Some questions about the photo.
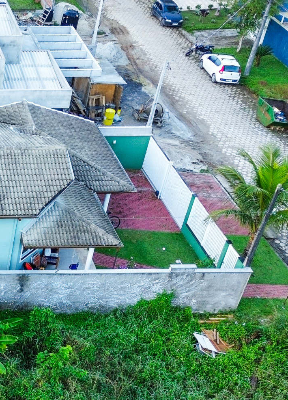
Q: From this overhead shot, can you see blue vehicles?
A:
Yes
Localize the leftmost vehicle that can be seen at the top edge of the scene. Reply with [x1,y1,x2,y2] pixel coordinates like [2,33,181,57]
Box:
[150,0,186,24]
